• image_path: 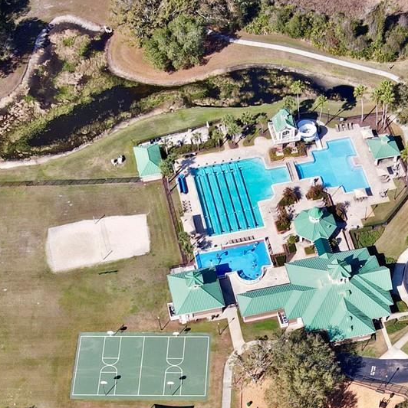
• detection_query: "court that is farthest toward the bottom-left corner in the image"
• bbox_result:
[71,331,145,400]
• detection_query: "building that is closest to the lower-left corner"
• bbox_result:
[168,267,226,321]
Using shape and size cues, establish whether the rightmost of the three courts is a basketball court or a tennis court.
basketball court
